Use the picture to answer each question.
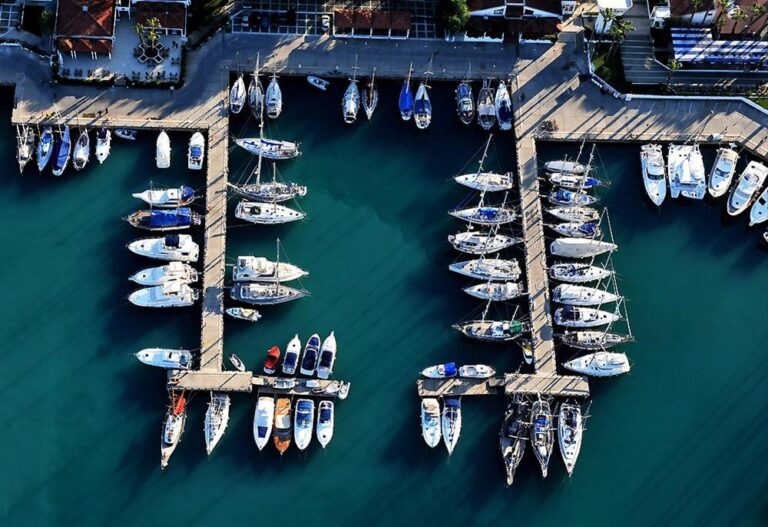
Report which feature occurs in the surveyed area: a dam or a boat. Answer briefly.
boat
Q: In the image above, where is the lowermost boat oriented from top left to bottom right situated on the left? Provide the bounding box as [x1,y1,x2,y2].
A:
[228,353,245,370]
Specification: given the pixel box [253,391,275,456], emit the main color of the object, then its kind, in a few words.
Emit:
white boat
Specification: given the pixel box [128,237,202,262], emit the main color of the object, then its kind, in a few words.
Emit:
white boat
